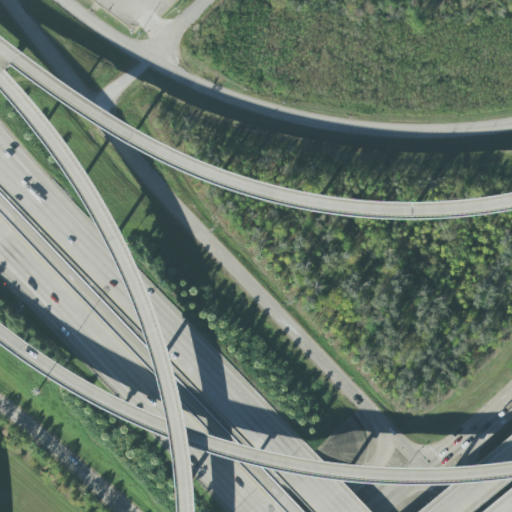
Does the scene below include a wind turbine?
No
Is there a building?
No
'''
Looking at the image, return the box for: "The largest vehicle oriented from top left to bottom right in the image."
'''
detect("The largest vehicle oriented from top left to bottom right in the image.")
[24,180,46,204]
